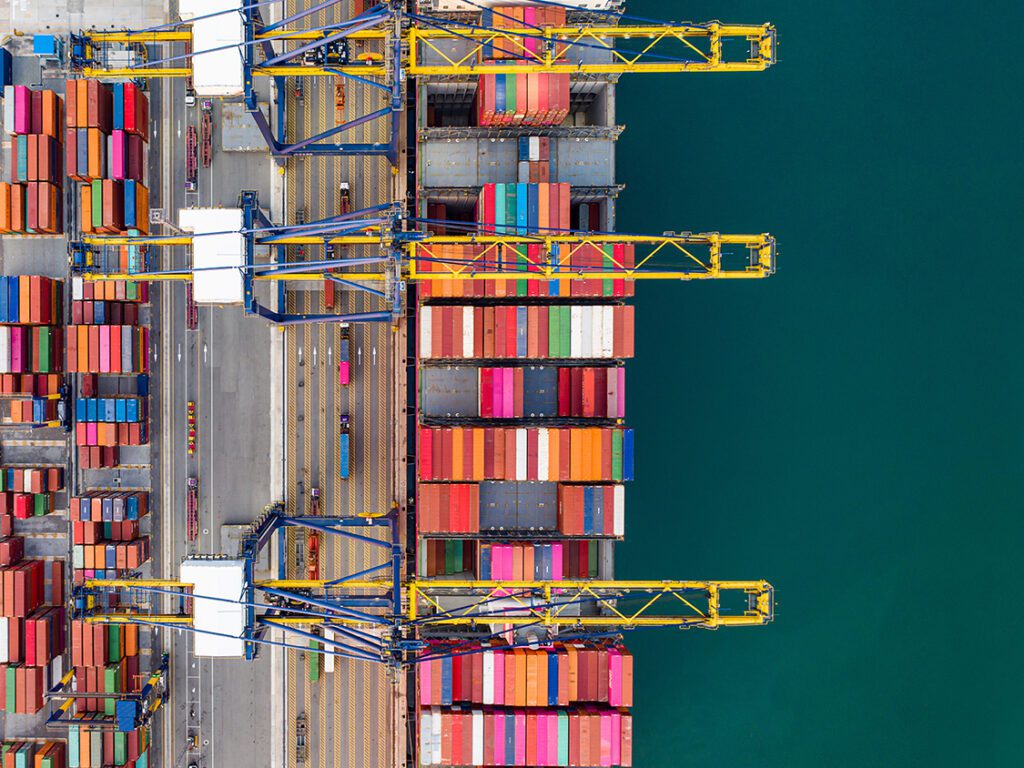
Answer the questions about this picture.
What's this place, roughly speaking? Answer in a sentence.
This image shows a port.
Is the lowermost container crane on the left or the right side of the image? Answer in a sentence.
The lowermost container crane appears in the left half of the scene.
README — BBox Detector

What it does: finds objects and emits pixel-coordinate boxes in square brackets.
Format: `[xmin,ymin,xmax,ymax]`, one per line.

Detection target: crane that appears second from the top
[65,192,781,339]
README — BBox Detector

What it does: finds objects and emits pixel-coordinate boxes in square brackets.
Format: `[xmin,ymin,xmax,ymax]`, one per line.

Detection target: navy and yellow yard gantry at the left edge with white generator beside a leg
[0,385,69,429]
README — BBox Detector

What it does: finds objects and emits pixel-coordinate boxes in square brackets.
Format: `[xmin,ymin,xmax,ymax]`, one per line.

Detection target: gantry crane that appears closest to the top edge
[65,0,781,176]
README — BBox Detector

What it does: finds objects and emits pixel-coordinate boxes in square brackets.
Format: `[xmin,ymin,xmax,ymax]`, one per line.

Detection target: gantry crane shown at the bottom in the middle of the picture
[65,501,781,671]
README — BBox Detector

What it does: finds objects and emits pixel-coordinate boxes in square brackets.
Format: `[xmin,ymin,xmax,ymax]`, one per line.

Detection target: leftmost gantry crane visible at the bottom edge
[41,660,165,732]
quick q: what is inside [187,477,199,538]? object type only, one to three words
vehicle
